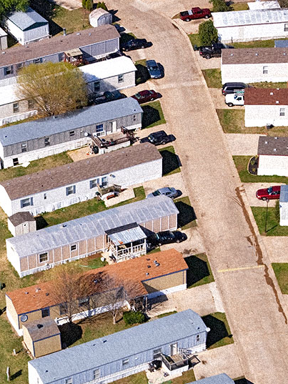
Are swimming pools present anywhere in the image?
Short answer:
No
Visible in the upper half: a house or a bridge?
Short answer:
house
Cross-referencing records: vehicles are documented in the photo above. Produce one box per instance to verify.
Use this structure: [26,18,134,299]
[144,188,183,201]
[150,231,190,250]
[218,79,255,98]
[175,8,214,25]
[255,186,279,202]
[114,22,136,35]
[195,41,236,60]
[137,129,176,145]
[132,90,164,106]
[146,59,162,81]
[119,39,153,52]
[221,93,244,111]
